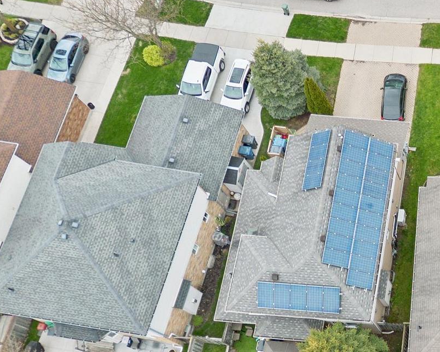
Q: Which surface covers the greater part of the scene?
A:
buildings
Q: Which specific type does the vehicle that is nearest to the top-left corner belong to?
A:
car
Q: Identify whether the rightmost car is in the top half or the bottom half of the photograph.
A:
top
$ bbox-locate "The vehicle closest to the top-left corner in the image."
[9,22,59,75]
